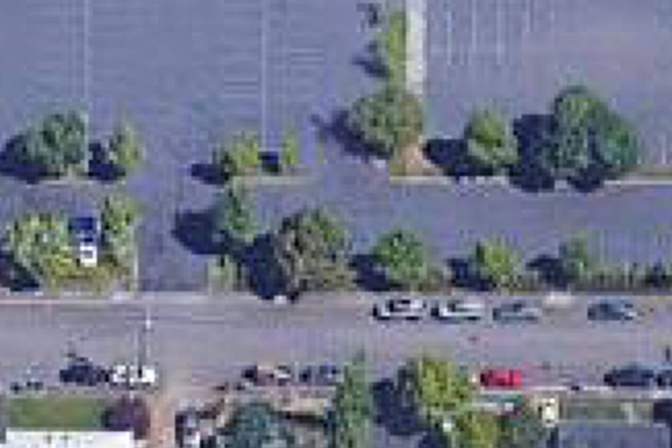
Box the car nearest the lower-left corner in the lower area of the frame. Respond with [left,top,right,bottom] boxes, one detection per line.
[59,360,111,385]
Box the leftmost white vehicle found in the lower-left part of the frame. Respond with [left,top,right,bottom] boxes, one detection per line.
[110,364,156,385]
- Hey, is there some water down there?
No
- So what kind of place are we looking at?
parking lot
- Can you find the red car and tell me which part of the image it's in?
bottom right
